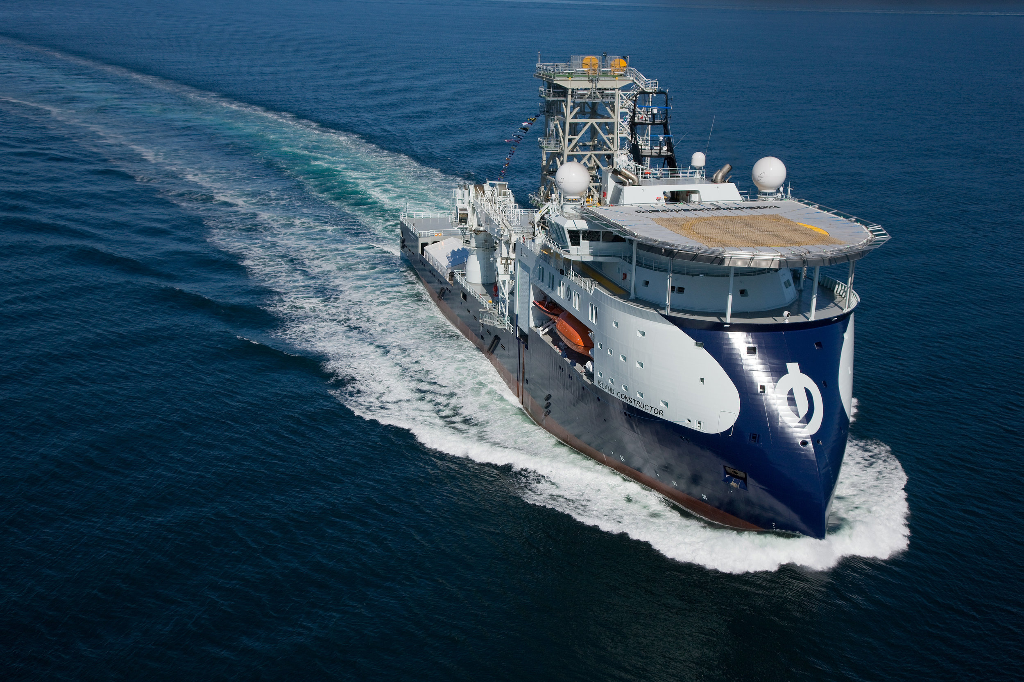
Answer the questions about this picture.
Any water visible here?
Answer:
Yes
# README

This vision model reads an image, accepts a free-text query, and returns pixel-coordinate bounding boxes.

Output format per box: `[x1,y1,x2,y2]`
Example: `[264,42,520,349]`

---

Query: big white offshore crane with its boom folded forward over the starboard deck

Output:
[450,180,520,298]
